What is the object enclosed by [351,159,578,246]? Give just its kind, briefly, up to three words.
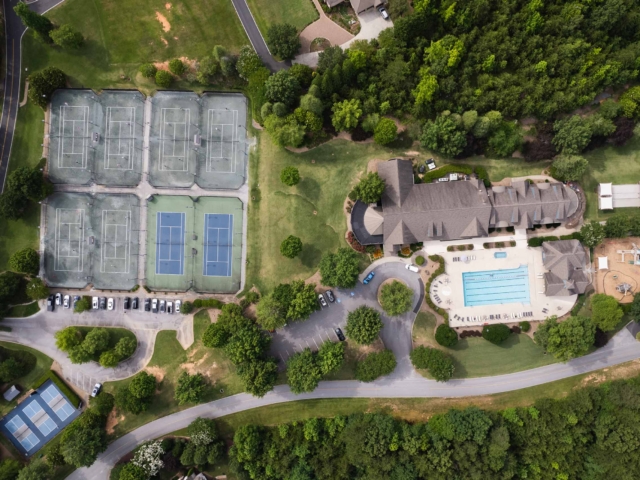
building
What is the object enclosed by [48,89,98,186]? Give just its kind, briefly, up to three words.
tennis court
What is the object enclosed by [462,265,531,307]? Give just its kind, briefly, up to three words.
swimming pool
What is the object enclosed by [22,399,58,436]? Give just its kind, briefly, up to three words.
sports court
